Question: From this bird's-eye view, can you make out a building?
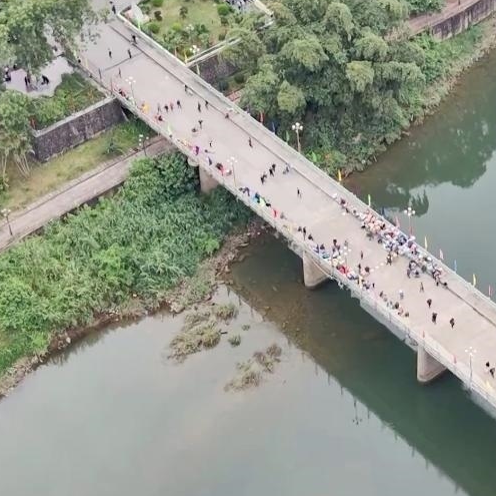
No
